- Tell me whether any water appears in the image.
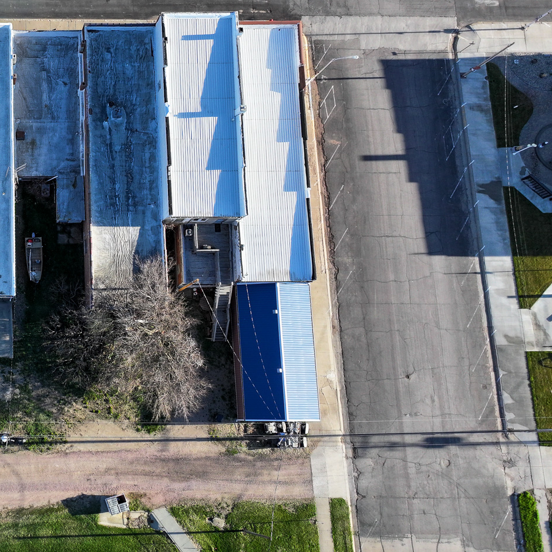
No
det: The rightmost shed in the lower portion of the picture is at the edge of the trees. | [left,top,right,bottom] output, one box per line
[224,282,321,422]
